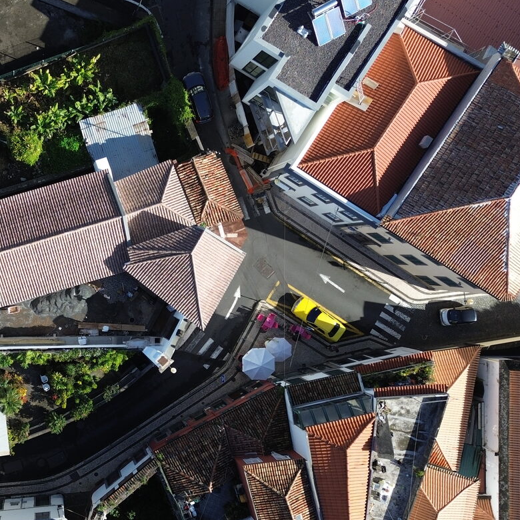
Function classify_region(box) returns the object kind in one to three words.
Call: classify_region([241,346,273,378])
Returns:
umbrella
